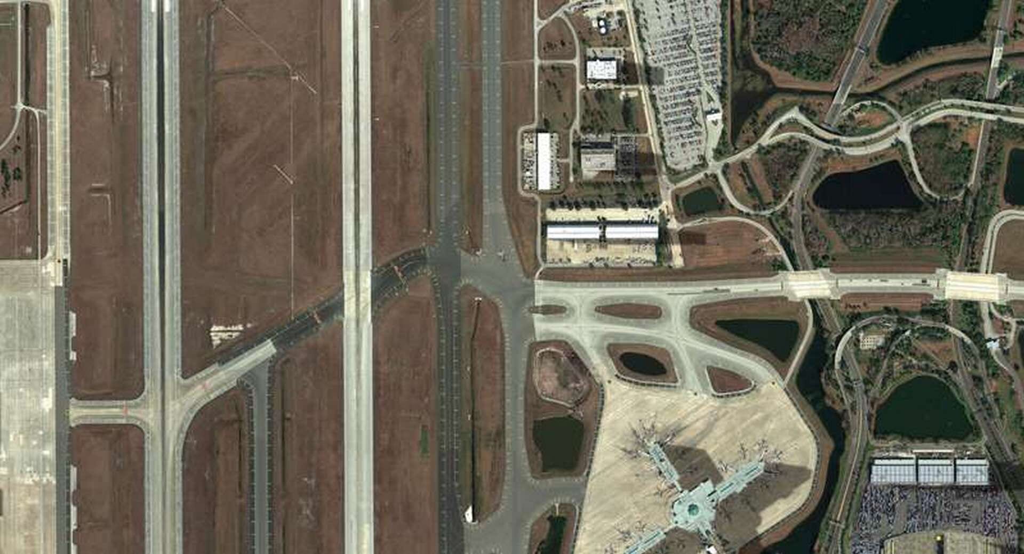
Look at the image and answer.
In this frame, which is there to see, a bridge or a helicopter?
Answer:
bridge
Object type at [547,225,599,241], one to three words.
hangar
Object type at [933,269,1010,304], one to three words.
bridge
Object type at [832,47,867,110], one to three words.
bridge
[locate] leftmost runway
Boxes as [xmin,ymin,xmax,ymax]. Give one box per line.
[141,0,183,554]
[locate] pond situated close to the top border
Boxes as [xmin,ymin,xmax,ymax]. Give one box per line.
[877,0,991,66]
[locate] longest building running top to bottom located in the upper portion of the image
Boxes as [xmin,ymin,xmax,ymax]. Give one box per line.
[538,132,550,189]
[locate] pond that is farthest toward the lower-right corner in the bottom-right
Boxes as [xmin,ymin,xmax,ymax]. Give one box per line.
[876,374,976,440]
